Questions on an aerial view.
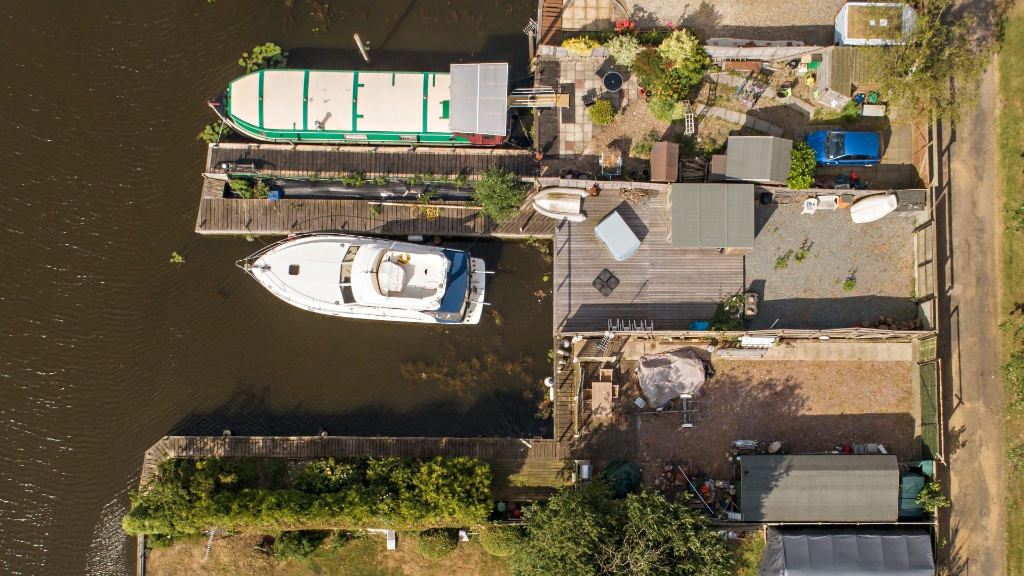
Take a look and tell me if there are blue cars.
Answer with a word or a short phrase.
Yes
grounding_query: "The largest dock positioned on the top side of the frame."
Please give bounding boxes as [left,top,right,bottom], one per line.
[196,142,555,238]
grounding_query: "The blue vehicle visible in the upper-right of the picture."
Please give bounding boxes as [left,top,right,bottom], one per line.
[799,126,883,167]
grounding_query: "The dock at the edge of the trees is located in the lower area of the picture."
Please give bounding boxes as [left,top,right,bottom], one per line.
[138,436,575,492]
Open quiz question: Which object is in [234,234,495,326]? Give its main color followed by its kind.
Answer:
white boat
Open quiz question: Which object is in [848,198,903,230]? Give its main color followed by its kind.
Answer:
white boat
